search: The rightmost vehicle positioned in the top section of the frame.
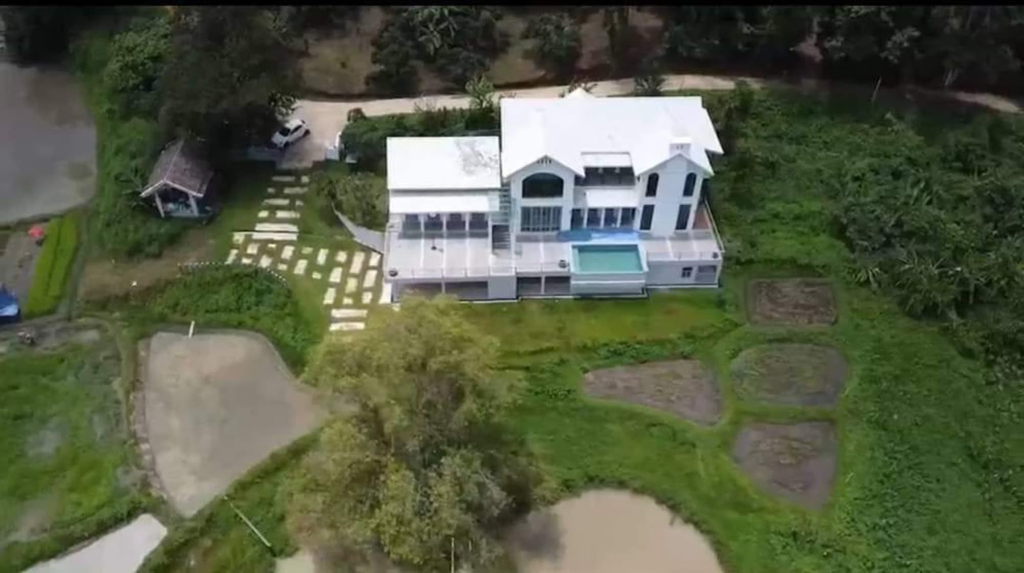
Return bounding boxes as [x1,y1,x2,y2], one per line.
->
[271,121,311,149]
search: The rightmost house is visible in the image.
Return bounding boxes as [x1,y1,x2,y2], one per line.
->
[380,80,726,308]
